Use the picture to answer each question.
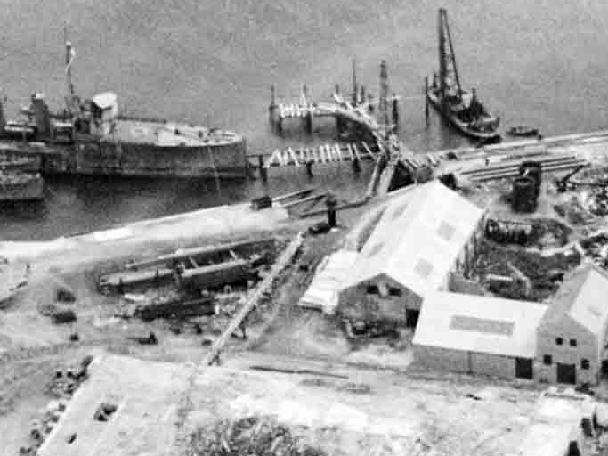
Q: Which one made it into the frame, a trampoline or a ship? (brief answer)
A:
ship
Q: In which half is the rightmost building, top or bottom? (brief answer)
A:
bottom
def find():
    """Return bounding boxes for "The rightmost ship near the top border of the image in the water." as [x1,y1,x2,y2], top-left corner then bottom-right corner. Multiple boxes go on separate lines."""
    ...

[421,6,503,146]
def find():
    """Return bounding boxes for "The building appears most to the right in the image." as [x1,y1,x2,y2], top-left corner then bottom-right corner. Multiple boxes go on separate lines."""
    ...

[533,262,608,376]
